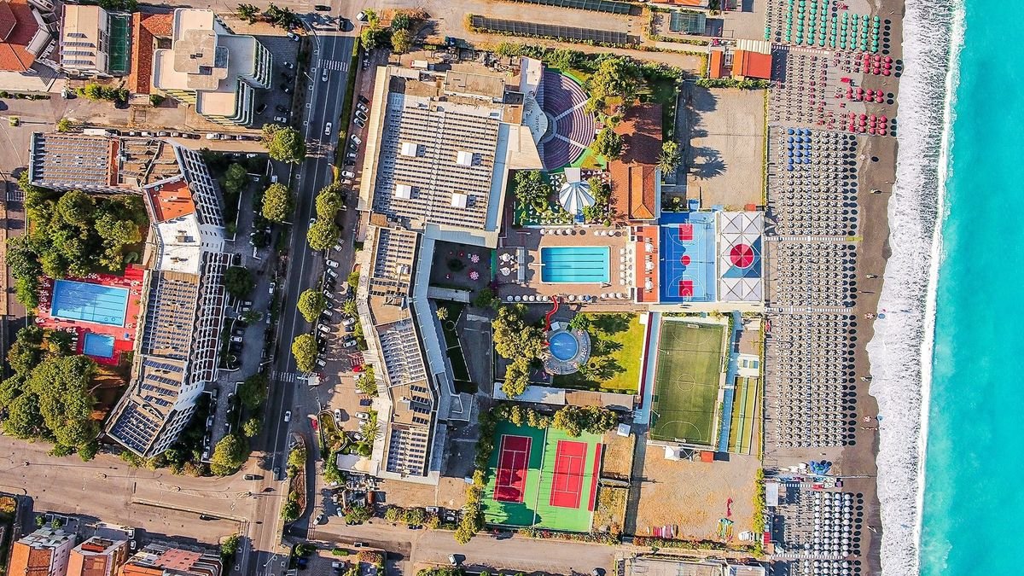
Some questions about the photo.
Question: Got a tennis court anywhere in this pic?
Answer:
Yes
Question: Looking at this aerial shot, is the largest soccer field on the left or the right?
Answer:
right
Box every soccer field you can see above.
[108,13,130,75]
[650,320,725,446]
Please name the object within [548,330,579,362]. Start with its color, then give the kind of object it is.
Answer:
blue swimming pool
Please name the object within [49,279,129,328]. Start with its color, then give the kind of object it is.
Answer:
blue swimming pool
